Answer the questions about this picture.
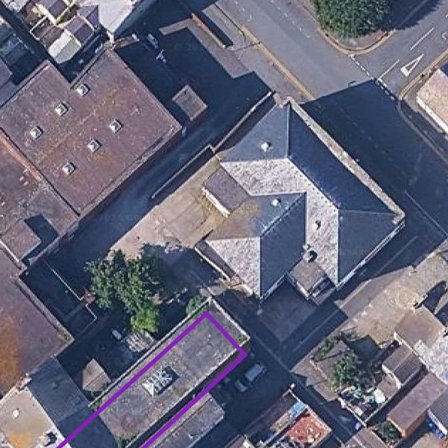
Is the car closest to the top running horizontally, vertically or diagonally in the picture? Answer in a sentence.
In this picture, the car closest to the top is oriented diagonally.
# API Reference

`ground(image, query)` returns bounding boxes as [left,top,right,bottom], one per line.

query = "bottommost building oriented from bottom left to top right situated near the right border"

[387,372,447,436]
